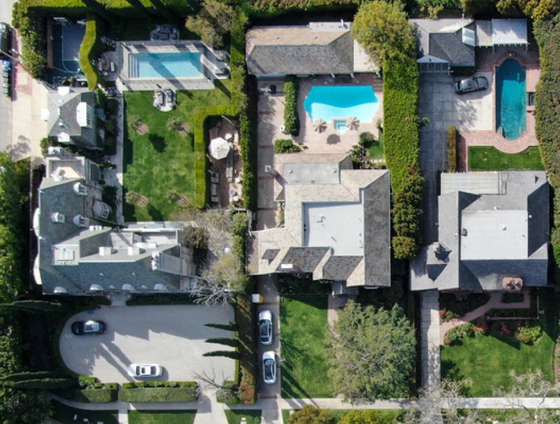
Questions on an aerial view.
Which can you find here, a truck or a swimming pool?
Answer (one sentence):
The image shows a swimming pool.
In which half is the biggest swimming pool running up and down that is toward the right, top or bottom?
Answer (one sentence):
The biggest swimming pool running up and down that is toward the right sits in the top half of the picture.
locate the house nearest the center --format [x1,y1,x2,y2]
[250,153,393,295]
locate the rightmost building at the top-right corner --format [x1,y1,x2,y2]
[476,18,528,53]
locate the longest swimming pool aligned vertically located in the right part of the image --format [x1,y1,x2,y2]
[494,57,528,142]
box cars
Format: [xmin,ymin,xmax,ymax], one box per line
[71,320,107,335]
[260,351,278,384]
[257,310,274,344]
[455,75,489,93]
[0,24,12,60]
[129,363,164,378]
